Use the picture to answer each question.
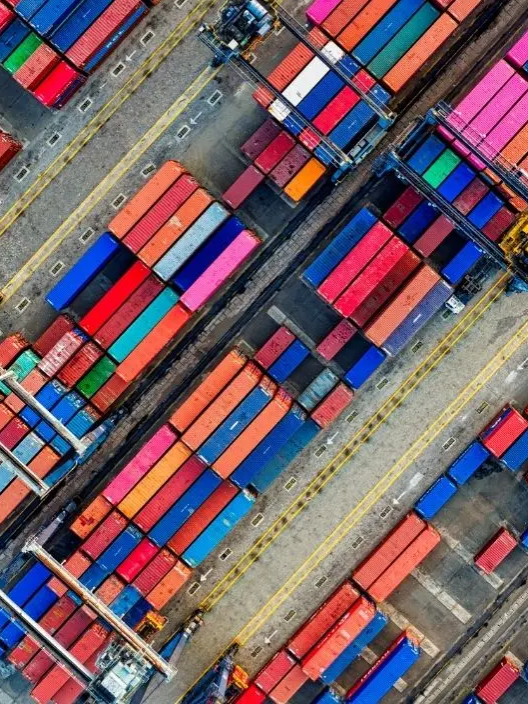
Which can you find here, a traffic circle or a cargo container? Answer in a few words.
cargo container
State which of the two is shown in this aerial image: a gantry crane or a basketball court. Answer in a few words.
gantry crane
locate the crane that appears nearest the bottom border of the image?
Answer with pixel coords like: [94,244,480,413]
[171,644,251,704]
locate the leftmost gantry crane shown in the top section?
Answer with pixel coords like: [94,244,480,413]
[193,0,402,176]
